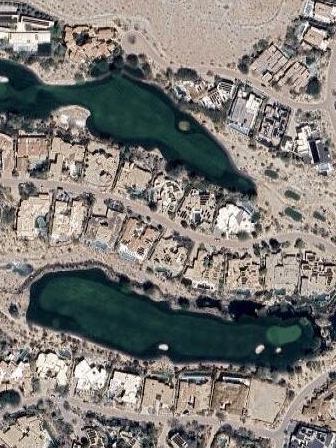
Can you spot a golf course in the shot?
Yes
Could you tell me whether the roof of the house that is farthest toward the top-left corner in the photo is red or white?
white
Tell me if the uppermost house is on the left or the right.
right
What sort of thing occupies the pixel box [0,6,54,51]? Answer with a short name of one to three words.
house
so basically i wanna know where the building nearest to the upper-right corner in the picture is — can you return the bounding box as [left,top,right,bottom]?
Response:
[305,0,336,20]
